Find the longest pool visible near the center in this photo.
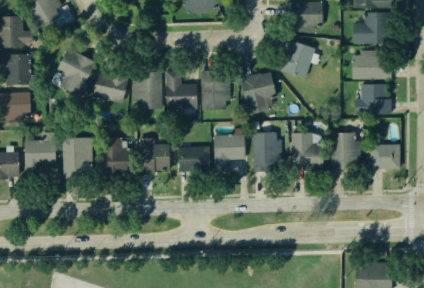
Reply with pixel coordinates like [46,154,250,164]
[214,122,236,134]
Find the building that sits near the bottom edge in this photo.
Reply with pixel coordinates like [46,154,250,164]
[355,262,392,288]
